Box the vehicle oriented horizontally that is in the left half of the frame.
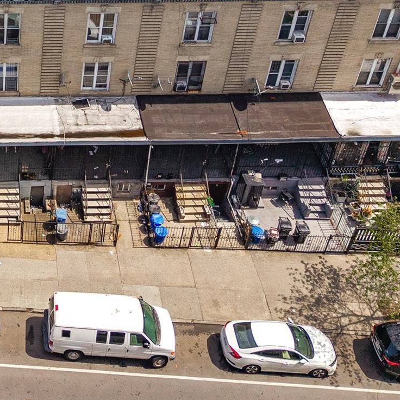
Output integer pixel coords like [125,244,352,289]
[42,291,185,367]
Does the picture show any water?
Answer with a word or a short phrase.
No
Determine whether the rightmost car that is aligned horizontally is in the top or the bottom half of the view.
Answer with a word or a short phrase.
bottom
